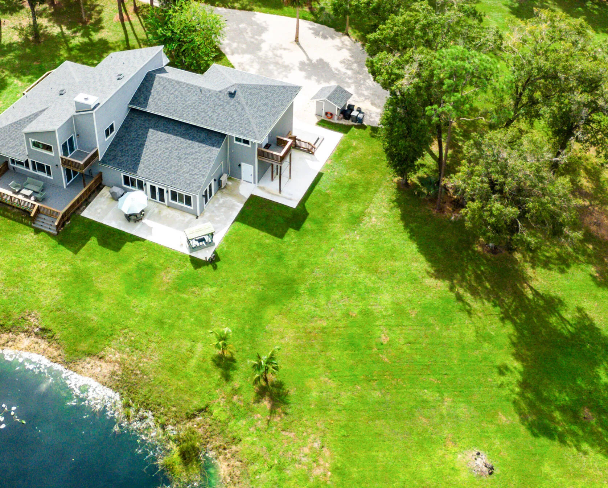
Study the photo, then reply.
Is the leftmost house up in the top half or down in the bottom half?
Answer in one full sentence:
The leftmost house is in the top half of the image.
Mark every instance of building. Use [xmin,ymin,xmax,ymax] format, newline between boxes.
[313,82,350,122]
[0,45,321,217]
